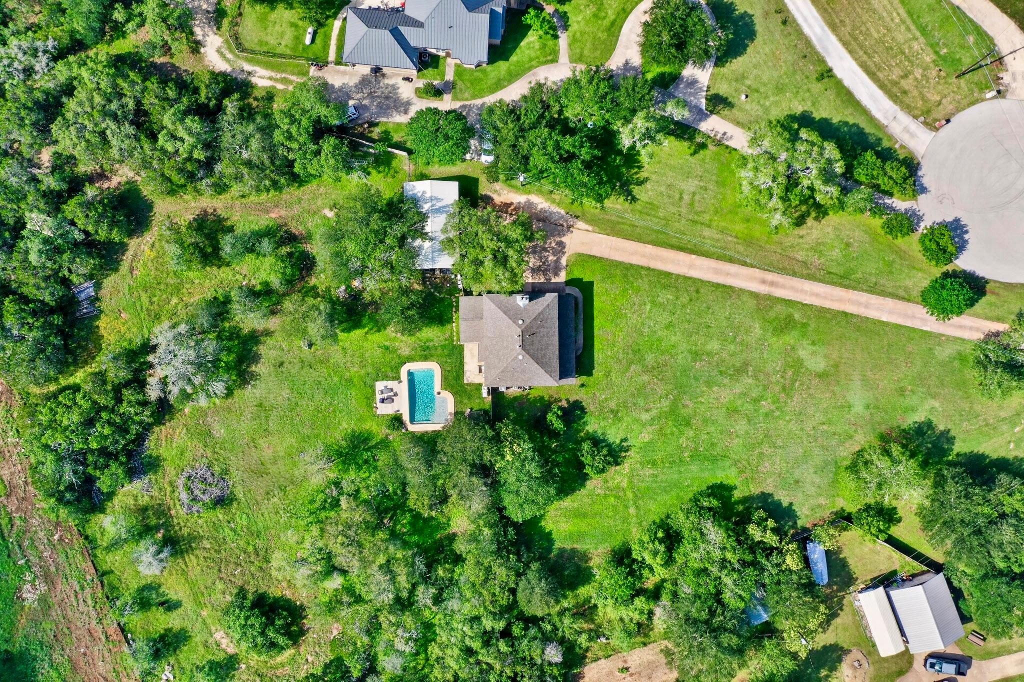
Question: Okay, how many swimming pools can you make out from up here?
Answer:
1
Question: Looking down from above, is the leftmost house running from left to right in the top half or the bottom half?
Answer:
top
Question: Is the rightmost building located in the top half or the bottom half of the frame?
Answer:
bottom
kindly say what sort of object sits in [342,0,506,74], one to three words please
house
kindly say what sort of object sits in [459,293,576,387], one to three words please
house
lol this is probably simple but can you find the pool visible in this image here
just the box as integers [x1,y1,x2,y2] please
[400,362,454,431]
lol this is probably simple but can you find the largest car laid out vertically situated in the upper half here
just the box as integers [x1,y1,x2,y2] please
[477,126,494,163]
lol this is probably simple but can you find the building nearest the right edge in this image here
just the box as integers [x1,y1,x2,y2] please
[880,569,965,654]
